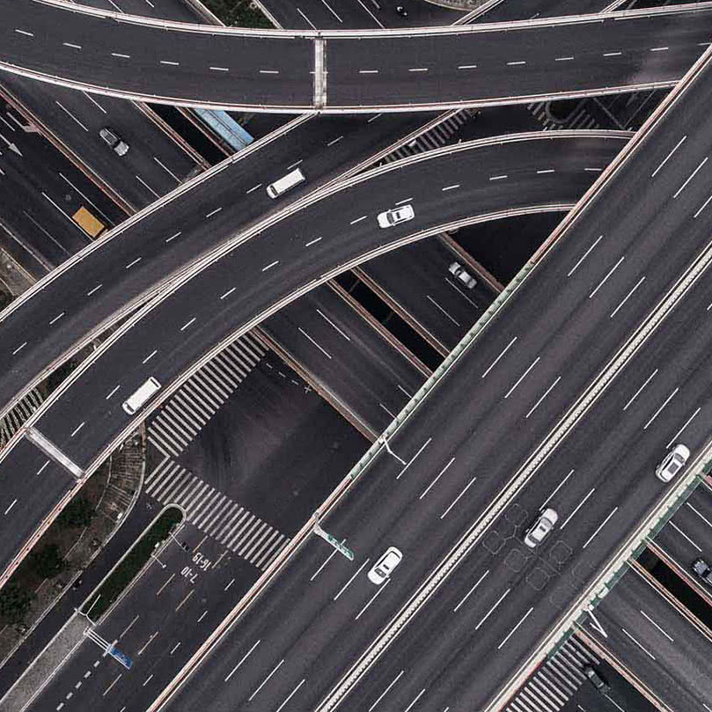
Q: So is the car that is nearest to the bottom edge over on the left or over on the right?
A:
right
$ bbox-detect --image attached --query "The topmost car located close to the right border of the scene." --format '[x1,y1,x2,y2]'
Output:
[652,443,691,483]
